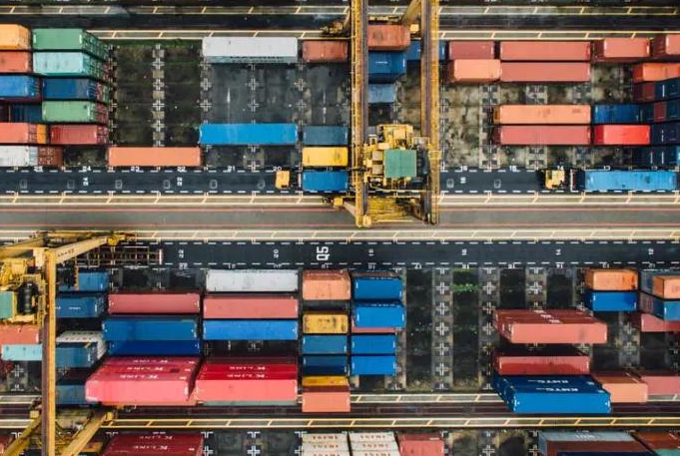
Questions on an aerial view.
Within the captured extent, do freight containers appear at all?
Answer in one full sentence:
Yes, there's a freight container here.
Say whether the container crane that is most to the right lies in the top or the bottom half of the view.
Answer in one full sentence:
The container crane that is most to the right sits in the top half of the picture.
